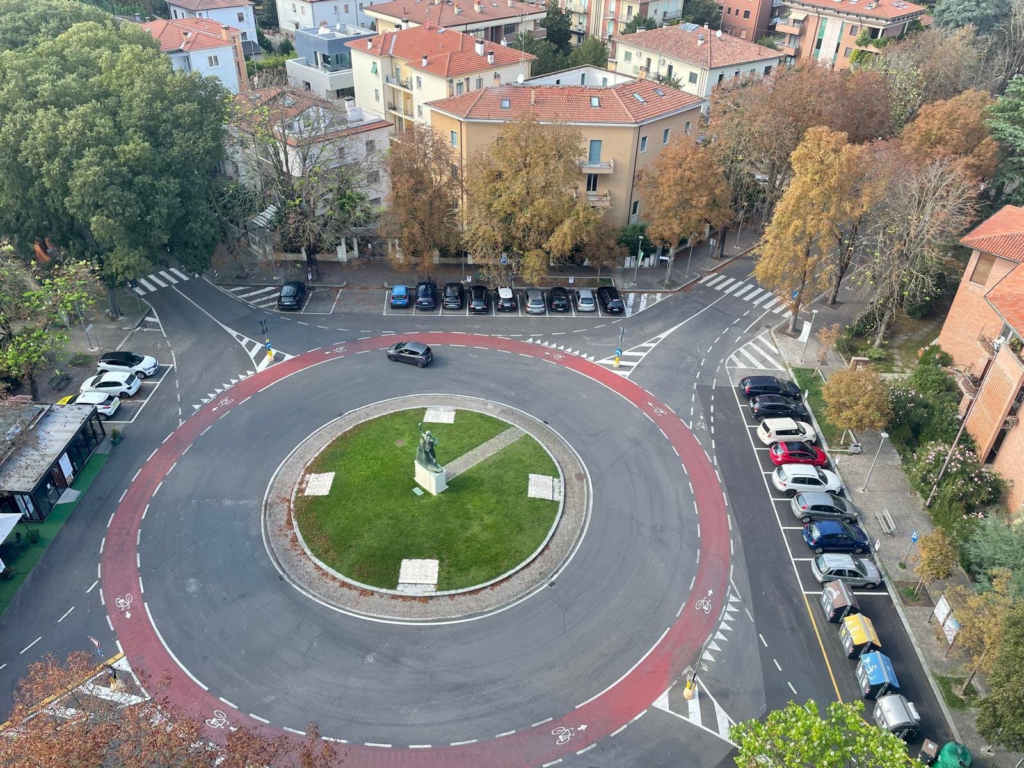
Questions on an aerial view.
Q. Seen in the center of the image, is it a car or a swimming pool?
car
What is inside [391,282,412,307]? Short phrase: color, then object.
blue car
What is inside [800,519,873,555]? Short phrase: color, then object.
blue car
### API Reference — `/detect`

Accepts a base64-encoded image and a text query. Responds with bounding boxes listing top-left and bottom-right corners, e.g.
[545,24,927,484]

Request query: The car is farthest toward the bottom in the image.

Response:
[810,552,887,590]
